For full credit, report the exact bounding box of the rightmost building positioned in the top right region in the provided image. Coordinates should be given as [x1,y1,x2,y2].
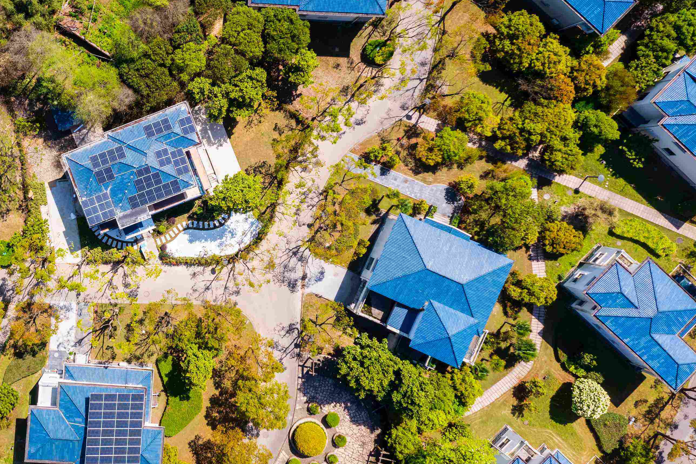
[614,56,696,189]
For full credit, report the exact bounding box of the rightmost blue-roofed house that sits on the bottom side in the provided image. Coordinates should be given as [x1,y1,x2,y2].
[549,240,696,395]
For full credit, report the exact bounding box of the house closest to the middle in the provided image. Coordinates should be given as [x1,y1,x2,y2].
[343,212,516,370]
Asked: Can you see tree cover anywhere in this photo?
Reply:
Yes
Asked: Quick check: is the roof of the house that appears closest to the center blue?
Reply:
Yes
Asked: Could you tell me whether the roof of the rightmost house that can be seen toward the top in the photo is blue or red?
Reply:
blue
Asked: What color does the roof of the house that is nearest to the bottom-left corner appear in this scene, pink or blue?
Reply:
blue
